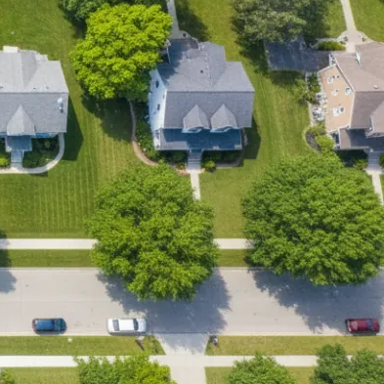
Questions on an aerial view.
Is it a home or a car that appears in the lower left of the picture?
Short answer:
car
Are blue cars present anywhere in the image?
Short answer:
Yes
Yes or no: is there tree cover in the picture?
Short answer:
Yes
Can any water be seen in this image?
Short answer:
No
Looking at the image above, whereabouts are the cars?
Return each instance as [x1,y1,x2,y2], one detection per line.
[31,318,66,335]
[344,318,379,335]
[107,318,146,335]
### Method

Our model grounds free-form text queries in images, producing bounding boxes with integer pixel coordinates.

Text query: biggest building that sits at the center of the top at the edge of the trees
[144,38,254,170]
